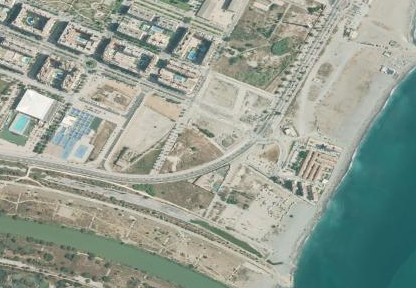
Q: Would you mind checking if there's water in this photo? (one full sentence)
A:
Yes, some water is visible.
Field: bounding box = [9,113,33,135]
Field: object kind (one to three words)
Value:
swimming pool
